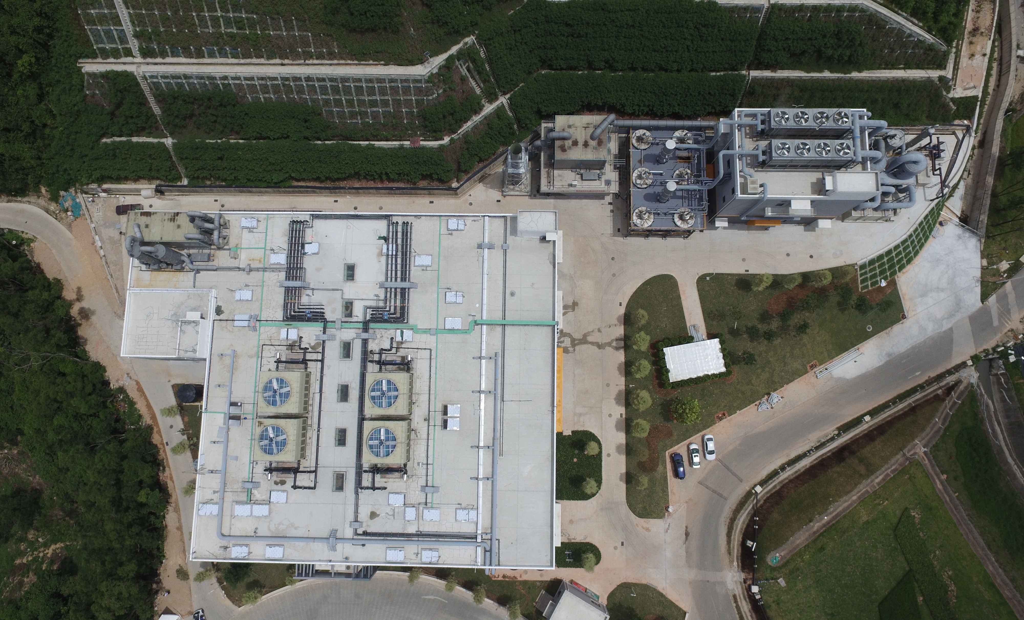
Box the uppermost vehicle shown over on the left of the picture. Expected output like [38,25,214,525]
[113,202,142,215]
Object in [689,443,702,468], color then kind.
white vehicle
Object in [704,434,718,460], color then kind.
white car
